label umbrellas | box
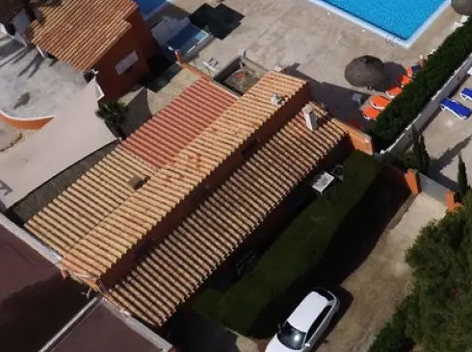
[345,59,386,95]
[450,0,472,21]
